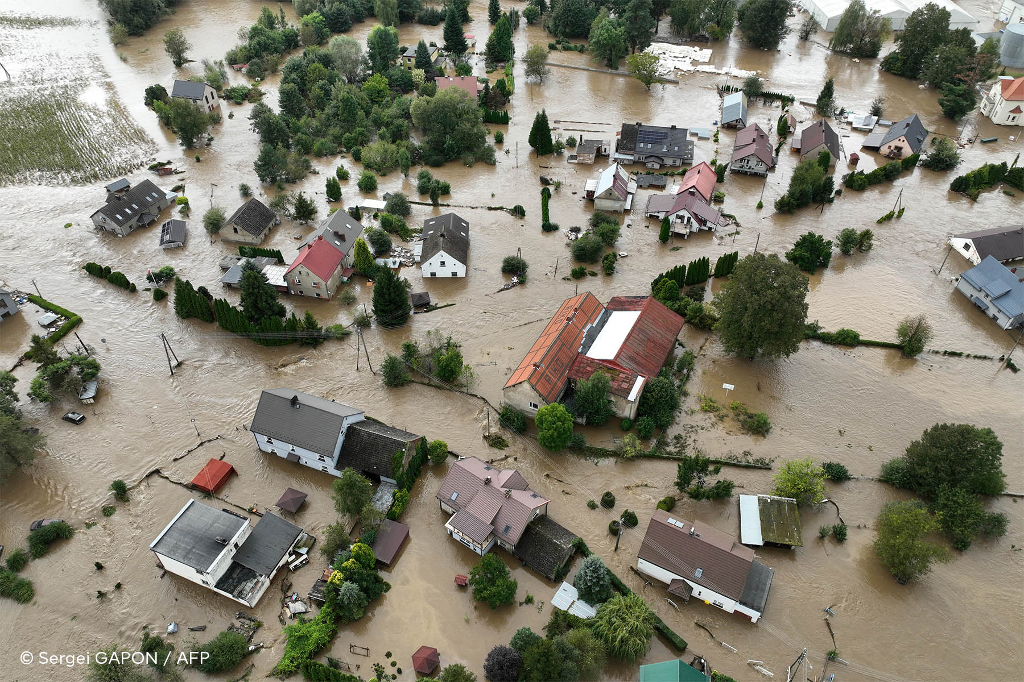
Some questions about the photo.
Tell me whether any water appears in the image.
Yes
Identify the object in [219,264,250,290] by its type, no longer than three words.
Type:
shed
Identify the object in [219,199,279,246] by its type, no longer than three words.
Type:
barn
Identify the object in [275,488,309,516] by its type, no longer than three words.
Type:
gazebo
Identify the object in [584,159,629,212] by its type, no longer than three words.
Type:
house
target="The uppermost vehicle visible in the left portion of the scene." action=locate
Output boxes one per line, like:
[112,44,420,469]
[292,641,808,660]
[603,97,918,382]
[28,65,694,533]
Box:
[61,412,88,428]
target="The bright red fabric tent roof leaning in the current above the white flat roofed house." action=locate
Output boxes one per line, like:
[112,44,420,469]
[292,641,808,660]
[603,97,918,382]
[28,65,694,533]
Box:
[192,459,234,496]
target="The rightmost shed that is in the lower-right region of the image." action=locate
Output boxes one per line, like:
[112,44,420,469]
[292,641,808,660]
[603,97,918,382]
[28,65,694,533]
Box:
[734,494,803,551]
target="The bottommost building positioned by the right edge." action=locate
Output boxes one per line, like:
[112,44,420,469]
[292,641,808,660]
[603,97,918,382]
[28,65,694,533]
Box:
[957,255,1024,328]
